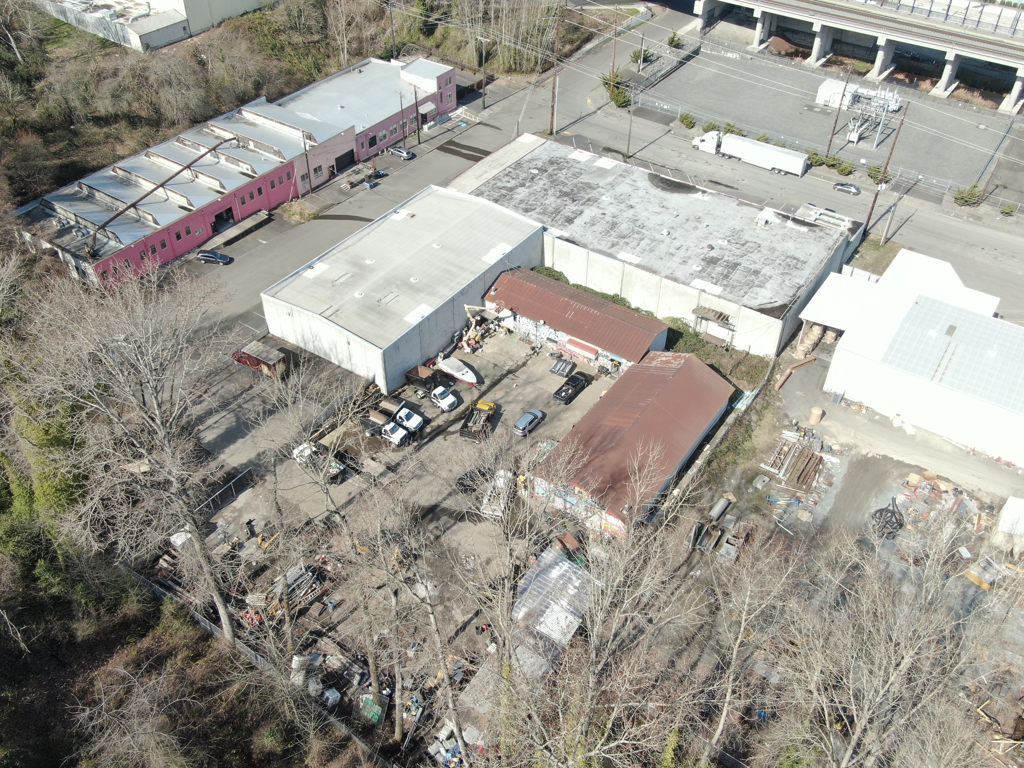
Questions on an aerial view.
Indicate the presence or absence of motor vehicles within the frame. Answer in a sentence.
Yes, the picture does show a motor vehicle.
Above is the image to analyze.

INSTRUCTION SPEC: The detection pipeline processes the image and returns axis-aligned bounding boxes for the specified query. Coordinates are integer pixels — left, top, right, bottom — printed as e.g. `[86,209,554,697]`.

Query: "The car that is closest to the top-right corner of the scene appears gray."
[833,184,862,197]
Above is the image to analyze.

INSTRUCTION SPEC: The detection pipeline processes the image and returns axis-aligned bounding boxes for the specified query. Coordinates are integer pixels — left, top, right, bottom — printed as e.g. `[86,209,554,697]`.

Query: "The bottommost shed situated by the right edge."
[988,494,1024,563]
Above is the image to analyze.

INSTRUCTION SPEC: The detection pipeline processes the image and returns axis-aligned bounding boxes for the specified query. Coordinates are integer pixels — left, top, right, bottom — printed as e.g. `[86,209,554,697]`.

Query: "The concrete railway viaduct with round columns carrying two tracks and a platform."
[684,0,1024,115]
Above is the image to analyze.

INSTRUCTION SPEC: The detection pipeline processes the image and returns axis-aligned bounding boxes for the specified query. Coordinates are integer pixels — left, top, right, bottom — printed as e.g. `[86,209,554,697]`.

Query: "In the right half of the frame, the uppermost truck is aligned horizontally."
[685,129,805,176]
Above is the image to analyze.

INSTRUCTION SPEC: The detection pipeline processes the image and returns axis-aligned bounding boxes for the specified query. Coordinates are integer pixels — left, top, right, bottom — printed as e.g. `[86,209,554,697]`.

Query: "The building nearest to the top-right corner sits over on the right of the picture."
[808,74,861,112]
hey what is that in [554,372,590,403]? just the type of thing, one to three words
truck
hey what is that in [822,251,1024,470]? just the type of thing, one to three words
warehouse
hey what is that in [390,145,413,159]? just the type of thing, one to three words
car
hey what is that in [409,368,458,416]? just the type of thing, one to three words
truck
